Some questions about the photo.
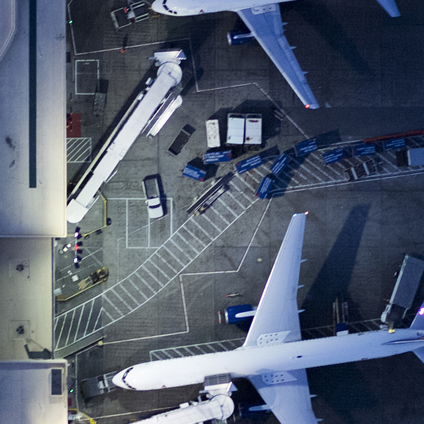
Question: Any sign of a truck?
Yes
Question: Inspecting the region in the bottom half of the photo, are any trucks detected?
Yes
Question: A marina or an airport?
airport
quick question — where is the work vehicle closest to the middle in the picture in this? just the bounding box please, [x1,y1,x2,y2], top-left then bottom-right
[189,174,231,214]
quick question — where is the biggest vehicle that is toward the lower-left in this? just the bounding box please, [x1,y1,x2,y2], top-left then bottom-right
[68,365,135,405]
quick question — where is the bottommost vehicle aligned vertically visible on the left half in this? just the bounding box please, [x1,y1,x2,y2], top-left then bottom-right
[142,174,163,218]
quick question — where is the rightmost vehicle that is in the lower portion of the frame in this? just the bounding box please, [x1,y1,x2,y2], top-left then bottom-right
[378,251,424,329]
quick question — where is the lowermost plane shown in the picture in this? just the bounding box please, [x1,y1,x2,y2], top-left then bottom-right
[112,211,424,424]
